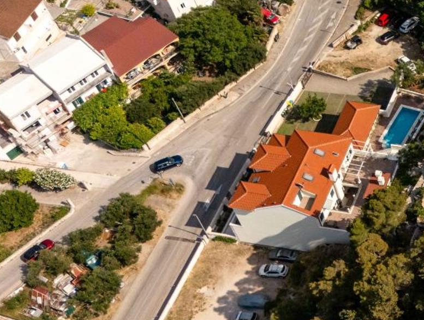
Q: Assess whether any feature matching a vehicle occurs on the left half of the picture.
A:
Yes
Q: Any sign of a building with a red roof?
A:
Yes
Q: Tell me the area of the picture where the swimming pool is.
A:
right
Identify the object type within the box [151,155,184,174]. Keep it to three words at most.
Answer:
car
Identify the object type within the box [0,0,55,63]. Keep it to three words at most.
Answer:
house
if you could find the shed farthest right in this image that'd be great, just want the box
[368,166,390,201]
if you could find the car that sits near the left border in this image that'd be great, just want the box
[20,238,56,262]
